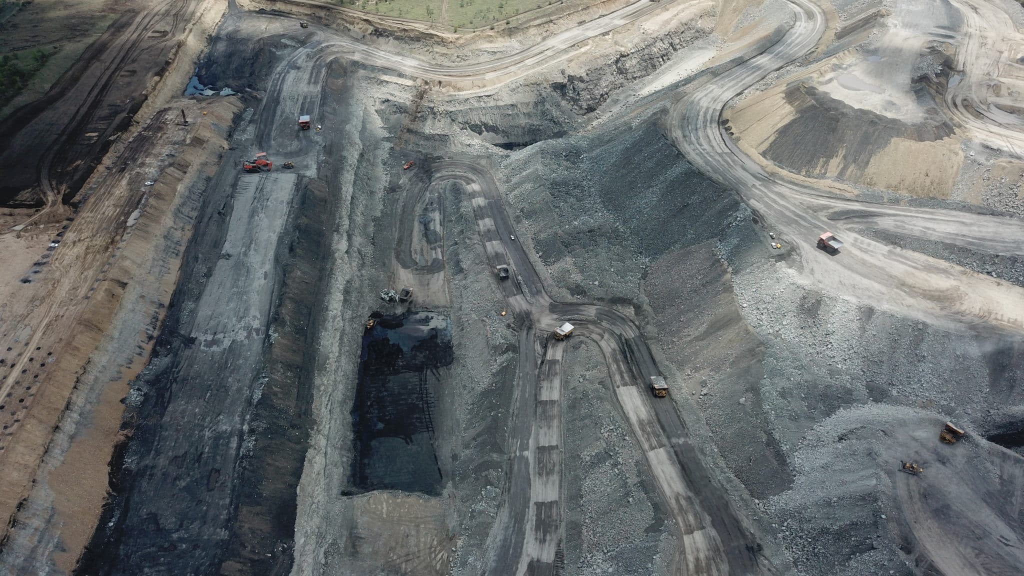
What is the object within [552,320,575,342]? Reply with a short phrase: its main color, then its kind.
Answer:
white truck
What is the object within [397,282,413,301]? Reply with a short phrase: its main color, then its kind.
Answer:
gray vehicle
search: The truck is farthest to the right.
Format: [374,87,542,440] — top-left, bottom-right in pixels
[937,418,968,447]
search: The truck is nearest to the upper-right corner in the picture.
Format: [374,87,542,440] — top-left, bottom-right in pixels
[818,229,848,251]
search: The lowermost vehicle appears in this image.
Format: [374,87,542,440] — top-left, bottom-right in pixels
[896,457,925,477]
